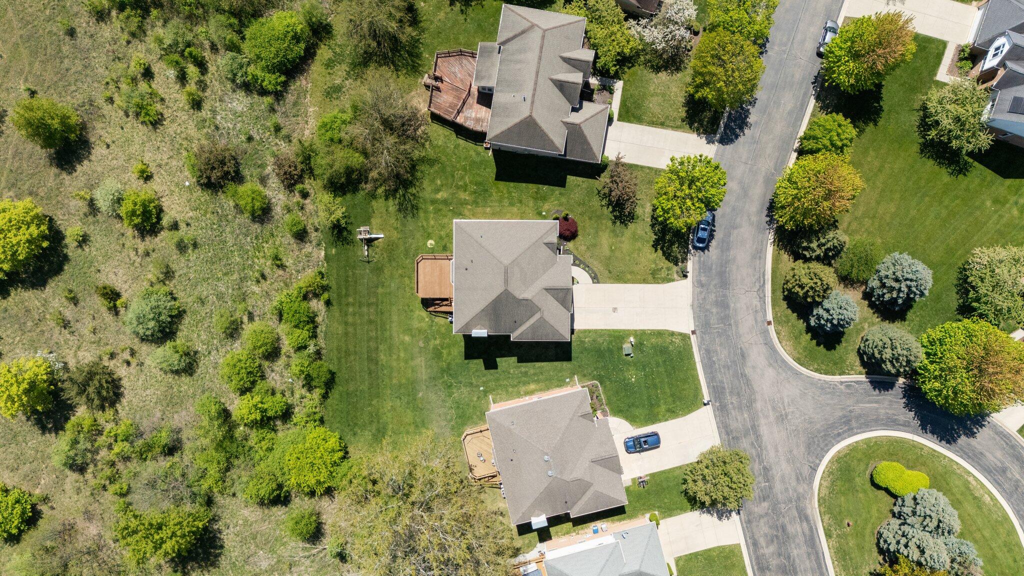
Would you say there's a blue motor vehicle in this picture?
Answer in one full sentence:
Yes, you can see a blue motor vehicle in this photo.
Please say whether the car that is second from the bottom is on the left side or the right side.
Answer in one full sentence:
It is on the right.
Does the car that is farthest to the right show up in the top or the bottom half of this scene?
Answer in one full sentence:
You can find the car that is farthest to the right in the top half.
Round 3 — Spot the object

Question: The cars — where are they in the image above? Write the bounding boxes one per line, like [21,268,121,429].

[624,433,661,453]
[814,21,838,58]
[692,212,715,248]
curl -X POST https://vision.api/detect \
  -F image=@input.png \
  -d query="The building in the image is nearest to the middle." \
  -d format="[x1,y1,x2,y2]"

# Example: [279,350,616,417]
[450,220,573,341]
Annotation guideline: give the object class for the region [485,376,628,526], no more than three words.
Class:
house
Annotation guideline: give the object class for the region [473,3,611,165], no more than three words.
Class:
house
